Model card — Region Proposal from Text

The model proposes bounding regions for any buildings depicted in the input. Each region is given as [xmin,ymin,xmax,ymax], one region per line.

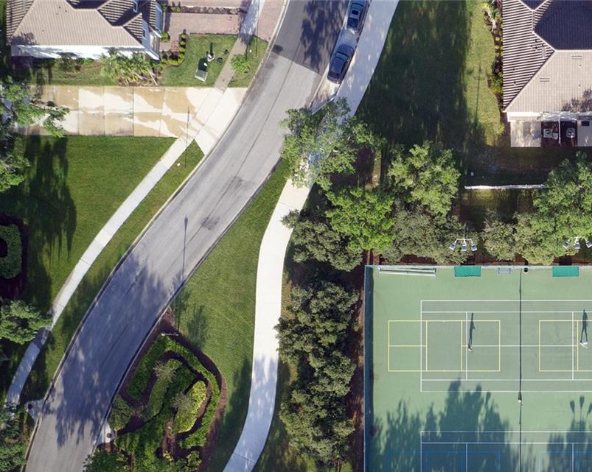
[12,0,168,59]
[503,0,592,122]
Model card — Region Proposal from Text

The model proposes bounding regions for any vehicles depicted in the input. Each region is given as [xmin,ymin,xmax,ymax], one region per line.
[328,44,354,85]
[346,0,371,30]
